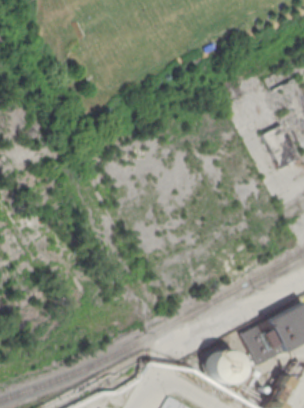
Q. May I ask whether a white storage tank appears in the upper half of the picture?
No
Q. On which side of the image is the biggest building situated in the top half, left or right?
right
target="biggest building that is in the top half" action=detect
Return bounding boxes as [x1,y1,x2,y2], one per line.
[260,124,304,169]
